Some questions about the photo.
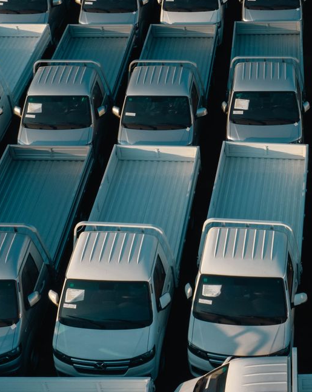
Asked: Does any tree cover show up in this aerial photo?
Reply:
No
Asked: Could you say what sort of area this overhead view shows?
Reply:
parking lot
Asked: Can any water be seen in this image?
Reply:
No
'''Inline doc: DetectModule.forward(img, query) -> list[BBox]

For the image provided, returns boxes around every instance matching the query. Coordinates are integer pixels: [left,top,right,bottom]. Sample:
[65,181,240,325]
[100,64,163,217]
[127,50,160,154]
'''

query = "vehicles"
[77,0,152,48]
[0,27,49,162]
[0,150,98,379]
[16,28,135,169]
[179,352,312,392]
[219,24,312,149]
[0,0,69,49]
[49,149,202,385]
[238,0,310,24]
[181,147,308,381]
[155,0,230,47]
[113,28,215,152]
